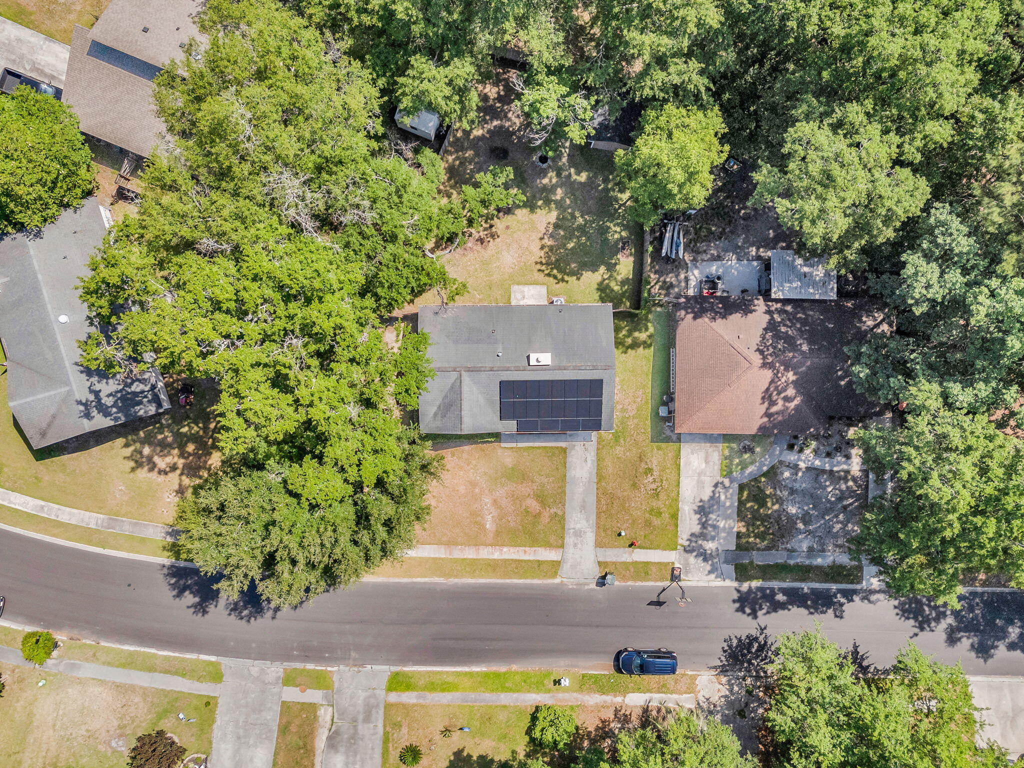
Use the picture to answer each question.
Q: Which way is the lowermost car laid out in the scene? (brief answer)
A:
from left to right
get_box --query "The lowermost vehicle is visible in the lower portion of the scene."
[613,647,677,679]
